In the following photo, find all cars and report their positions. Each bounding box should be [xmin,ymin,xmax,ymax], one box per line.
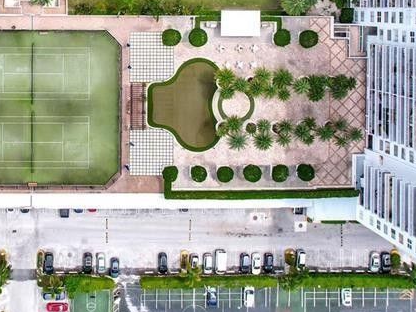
[240,250,250,273]
[20,208,29,215]
[339,285,351,307]
[179,208,188,215]
[83,250,92,273]
[243,285,254,308]
[59,208,69,220]
[46,301,68,311]
[262,250,273,273]
[110,256,119,276]
[96,249,106,272]
[207,285,217,308]
[189,250,198,264]
[6,208,14,214]
[87,208,96,215]
[250,251,261,273]
[202,251,213,274]
[74,208,83,216]
[368,250,379,272]
[44,250,53,272]
[157,250,167,273]
[379,249,391,272]
[295,249,306,272]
